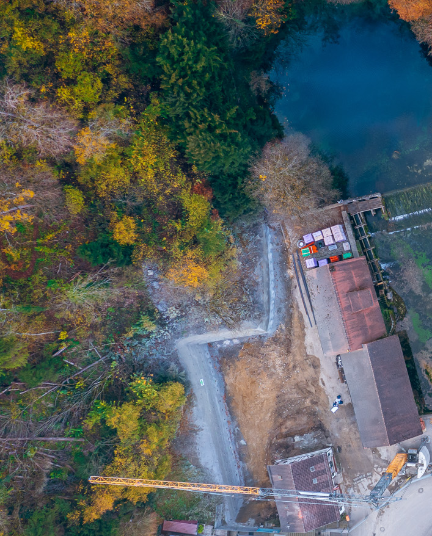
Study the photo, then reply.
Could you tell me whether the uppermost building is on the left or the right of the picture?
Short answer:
right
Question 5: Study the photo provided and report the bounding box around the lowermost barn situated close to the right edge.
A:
[340,335,422,450]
